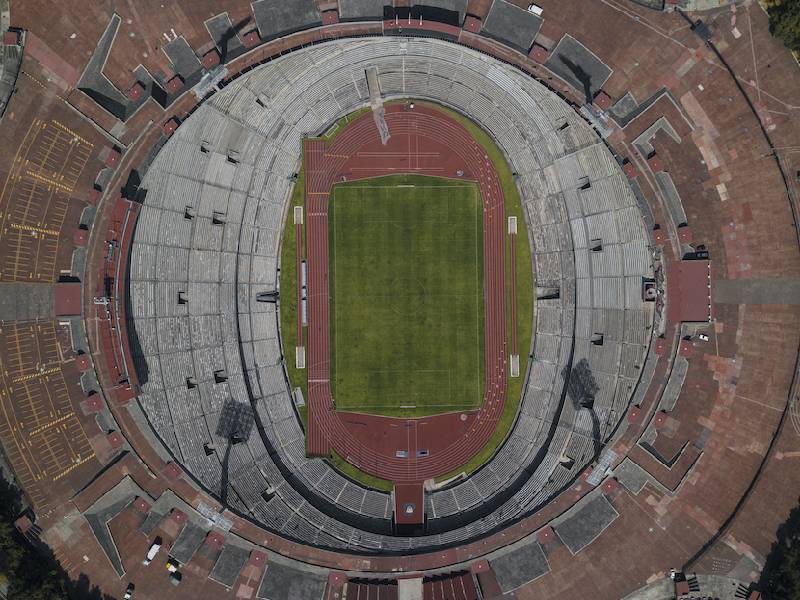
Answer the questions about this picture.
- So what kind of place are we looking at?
sports ground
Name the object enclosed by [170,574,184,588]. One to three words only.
vehicle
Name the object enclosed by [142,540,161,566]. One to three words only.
vehicle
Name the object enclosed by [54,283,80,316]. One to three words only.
building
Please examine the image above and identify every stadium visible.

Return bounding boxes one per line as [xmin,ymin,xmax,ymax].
[70,12,696,580]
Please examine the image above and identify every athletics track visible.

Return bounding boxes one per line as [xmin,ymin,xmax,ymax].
[302,102,505,480]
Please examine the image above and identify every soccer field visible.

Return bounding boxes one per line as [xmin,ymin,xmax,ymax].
[330,173,484,419]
